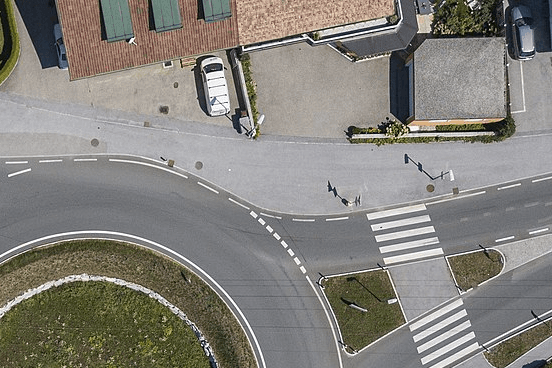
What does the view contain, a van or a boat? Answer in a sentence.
It is a van that can be seen here.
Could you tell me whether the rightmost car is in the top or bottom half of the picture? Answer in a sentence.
The top half of the photo is where the rightmost car is.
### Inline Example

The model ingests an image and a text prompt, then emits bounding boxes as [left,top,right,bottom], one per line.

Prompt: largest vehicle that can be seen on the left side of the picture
[200,55,230,118]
